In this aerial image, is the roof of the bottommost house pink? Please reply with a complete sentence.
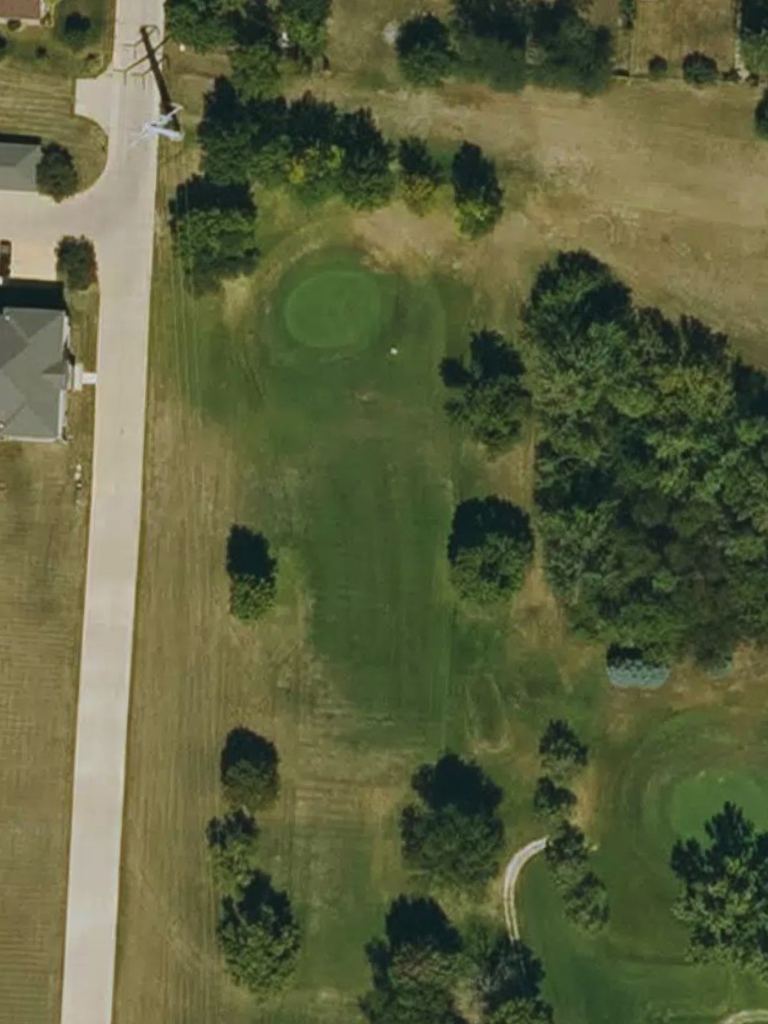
No, the roof of the bottommost house is gray.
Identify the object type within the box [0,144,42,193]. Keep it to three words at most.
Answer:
building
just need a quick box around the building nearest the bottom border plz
[0,308,85,439]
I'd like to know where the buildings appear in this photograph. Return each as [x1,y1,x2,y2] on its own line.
[0,144,42,193]
[0,0,42,21]
[0,308,85,439]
